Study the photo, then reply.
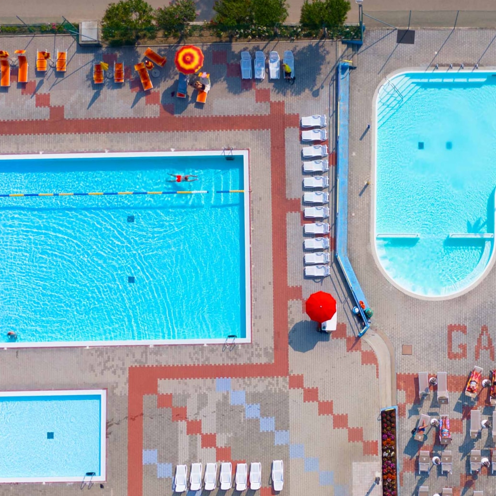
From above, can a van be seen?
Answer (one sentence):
No, there appears to be no van in this shot.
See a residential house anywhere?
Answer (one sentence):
No, no residential house is visible in the scene.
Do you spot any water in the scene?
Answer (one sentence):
Yes, there's water in this view.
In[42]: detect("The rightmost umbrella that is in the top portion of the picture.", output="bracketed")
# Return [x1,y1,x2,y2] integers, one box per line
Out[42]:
[175,46,206,76]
